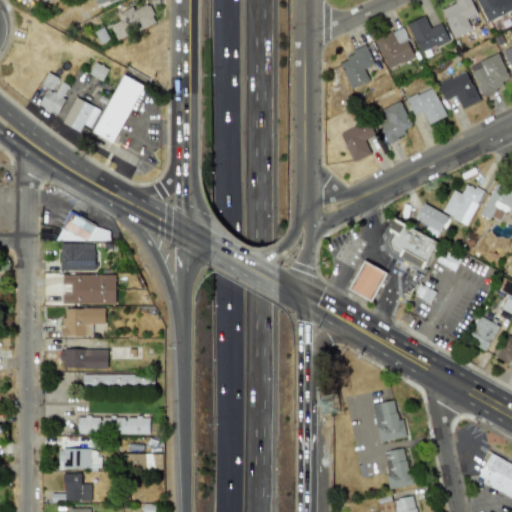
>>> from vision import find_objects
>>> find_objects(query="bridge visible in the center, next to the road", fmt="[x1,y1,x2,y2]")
[208,208,282,306]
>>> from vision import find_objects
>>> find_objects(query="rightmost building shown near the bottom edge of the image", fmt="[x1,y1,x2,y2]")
[480,454,512,500]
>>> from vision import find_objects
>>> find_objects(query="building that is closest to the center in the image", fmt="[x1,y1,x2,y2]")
[350,260,386,301]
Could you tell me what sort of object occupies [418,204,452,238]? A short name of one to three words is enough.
house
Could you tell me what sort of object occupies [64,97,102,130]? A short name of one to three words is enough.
building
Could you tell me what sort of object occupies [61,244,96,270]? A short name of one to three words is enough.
house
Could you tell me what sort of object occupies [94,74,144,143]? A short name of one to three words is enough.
building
